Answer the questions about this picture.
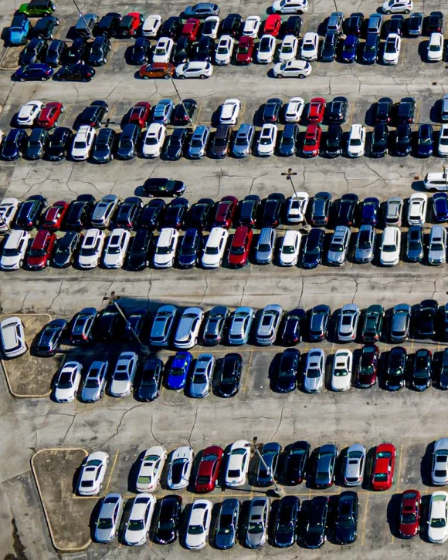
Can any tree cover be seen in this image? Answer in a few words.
No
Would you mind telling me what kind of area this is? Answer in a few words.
parking lot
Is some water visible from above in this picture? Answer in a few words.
No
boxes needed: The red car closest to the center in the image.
[226,224,252,266]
